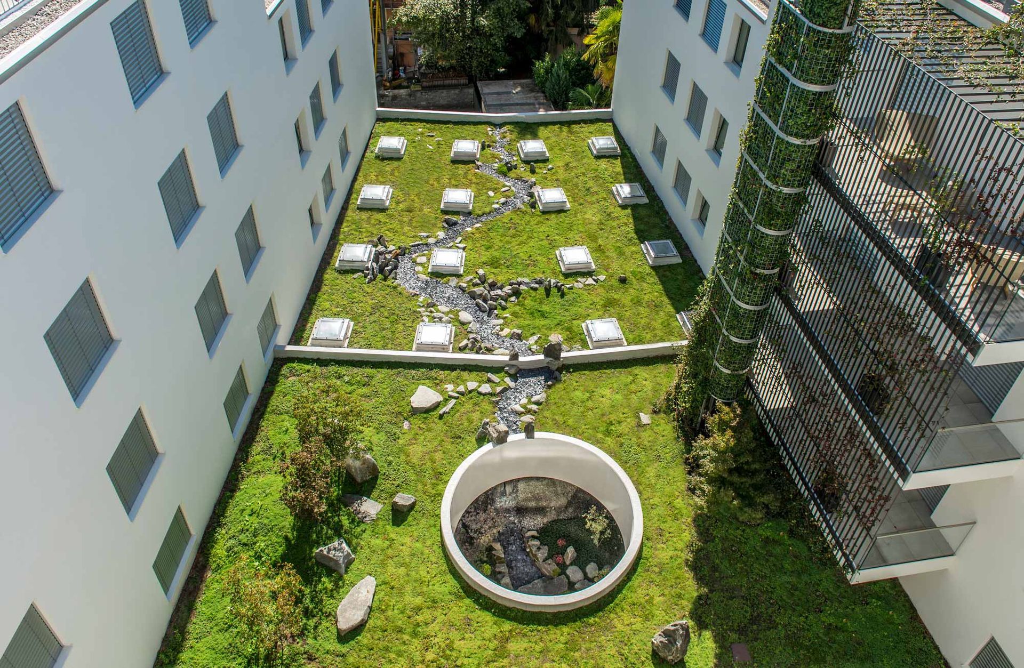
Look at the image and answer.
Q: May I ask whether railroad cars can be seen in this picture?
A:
No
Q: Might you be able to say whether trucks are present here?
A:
No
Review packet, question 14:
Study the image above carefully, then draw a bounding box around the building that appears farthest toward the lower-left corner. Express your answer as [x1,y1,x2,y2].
[0,0,376,668]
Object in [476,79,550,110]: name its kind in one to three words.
building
